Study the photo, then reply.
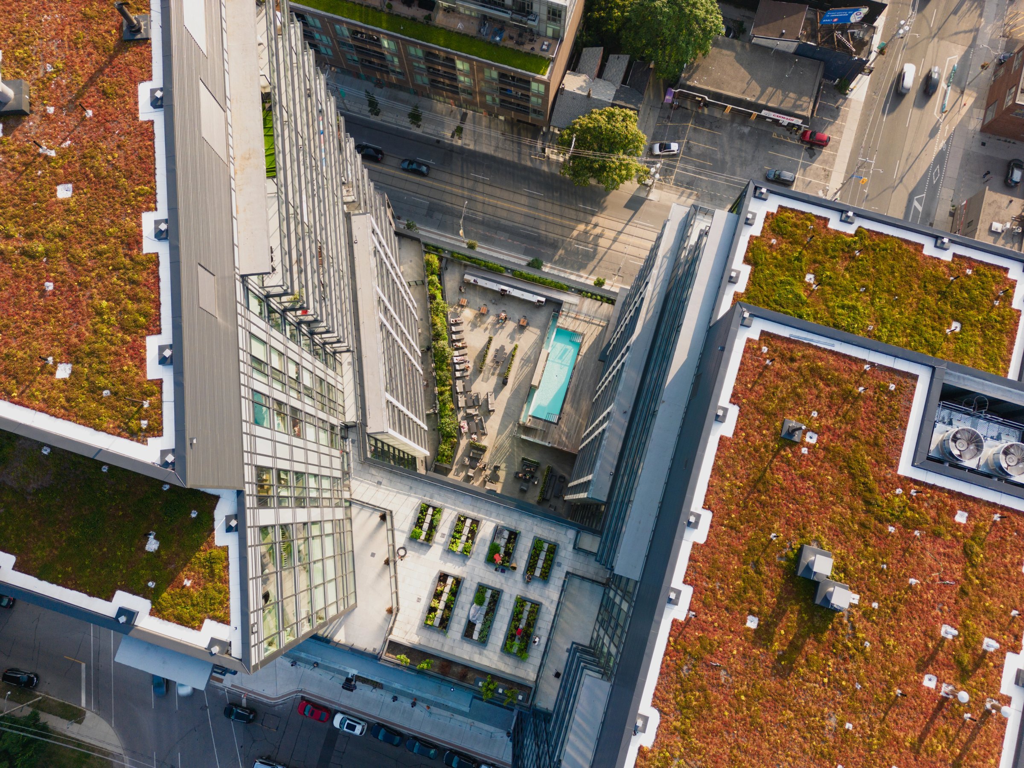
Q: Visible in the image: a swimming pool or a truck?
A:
swimming pool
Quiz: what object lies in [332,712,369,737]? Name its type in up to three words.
car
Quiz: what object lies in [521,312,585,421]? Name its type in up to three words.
swimming pool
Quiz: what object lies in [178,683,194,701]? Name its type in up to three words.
car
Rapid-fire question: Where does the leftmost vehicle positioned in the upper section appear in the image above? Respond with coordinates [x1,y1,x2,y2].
[355,143,386,162]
